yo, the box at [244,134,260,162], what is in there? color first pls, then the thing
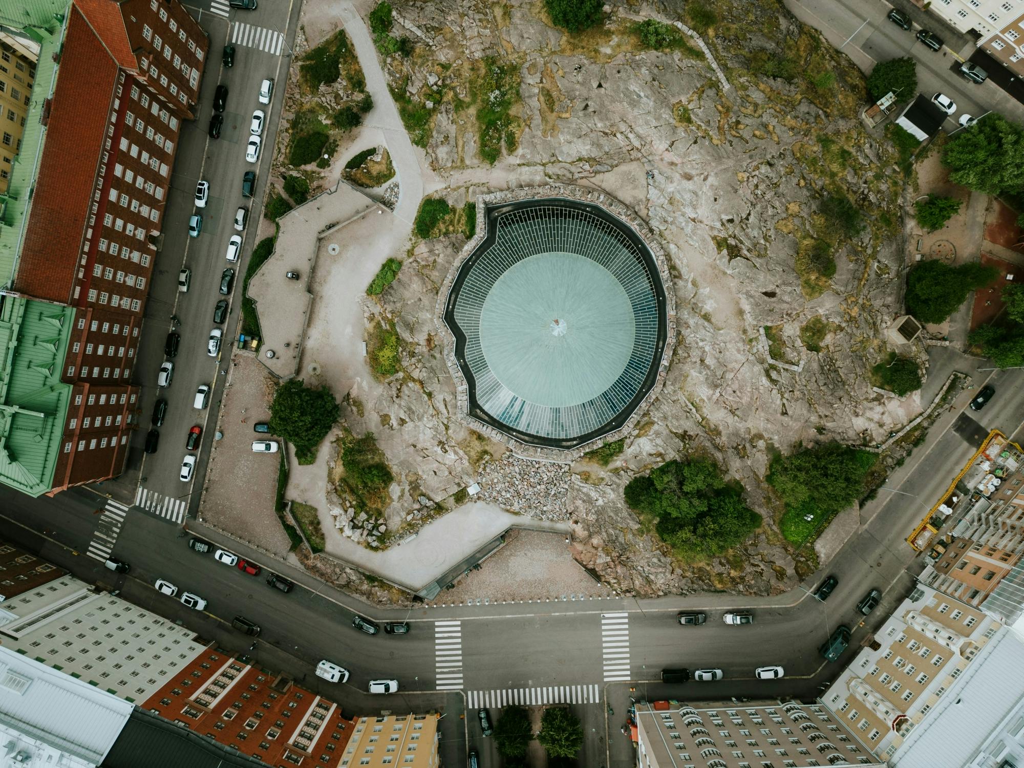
white car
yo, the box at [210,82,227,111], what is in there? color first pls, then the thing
black car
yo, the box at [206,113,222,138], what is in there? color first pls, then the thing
black car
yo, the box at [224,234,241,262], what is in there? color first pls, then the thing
white car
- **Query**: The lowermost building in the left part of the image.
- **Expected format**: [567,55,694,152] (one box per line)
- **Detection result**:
[338,713,439,768]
